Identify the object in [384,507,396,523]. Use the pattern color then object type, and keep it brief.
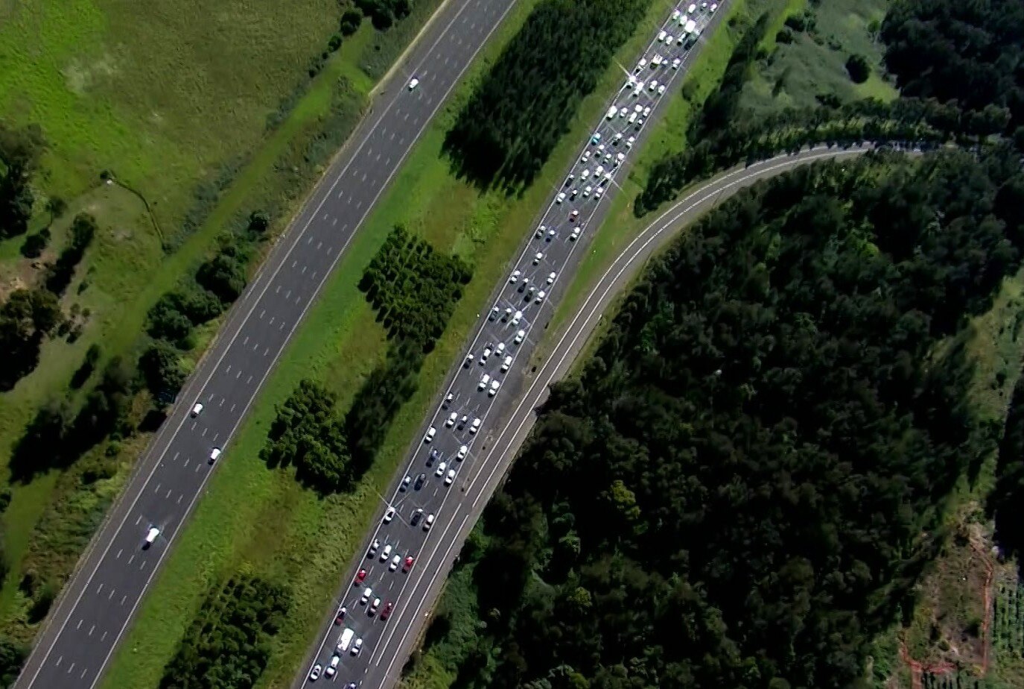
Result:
white vehicle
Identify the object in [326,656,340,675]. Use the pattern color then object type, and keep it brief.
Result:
white vehicle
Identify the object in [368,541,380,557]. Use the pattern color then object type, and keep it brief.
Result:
gray vehicle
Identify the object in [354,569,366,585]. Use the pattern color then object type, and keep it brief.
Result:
red vehicle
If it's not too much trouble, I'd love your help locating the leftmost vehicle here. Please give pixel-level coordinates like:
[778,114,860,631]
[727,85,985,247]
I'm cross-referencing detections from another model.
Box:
[144,530,159,546]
